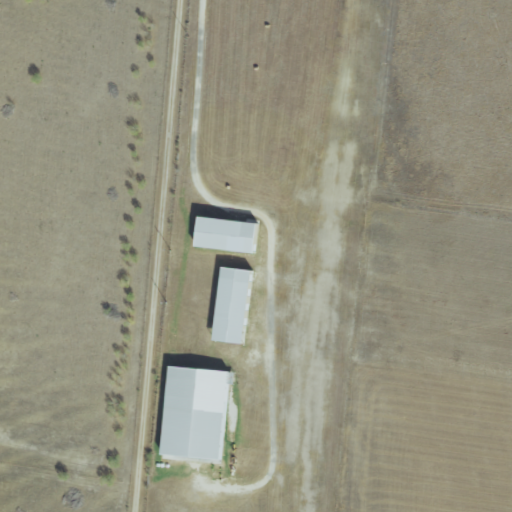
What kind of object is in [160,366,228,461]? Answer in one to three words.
hangar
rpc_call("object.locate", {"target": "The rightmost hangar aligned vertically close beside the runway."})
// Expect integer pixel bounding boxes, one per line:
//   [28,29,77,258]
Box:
[212,267,252,347]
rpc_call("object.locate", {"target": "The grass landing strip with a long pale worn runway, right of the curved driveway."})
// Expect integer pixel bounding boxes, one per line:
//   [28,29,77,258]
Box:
[280,0,367,512]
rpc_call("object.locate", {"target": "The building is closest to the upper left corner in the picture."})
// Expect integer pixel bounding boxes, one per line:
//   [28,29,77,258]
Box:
[194,216,258,252]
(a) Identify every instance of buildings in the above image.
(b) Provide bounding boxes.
[194,216,258,252]
[212,267,252,347]
[160,366,228,461]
